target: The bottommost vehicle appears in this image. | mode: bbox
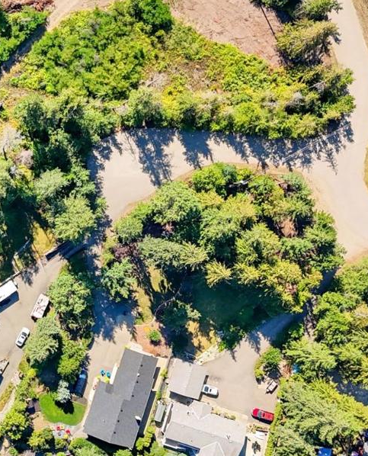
[249,408,273,421]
